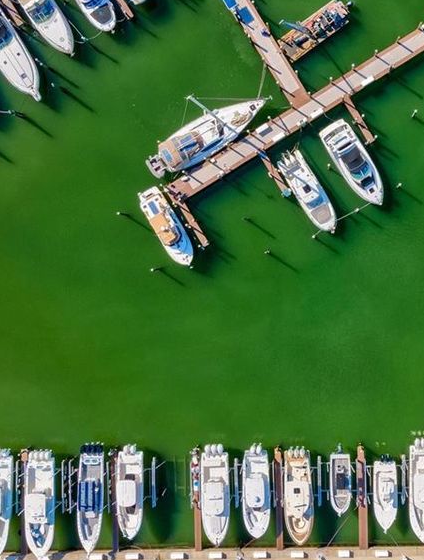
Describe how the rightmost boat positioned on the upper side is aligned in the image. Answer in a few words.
on a diagonal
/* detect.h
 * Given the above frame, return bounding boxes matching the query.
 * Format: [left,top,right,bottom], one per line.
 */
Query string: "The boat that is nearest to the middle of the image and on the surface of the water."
[137,186,195,269]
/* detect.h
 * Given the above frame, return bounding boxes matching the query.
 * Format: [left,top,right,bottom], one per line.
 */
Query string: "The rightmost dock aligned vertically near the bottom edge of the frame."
[354,445,370,546]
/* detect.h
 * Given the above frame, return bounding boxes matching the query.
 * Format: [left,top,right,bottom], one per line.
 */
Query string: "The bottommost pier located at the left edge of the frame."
[14,449,34,552]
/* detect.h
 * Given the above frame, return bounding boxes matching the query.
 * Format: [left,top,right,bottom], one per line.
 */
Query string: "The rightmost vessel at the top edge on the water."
[279,0,349,63]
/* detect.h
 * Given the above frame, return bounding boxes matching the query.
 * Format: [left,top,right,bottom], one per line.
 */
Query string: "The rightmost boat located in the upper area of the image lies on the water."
[317,114,386,209]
